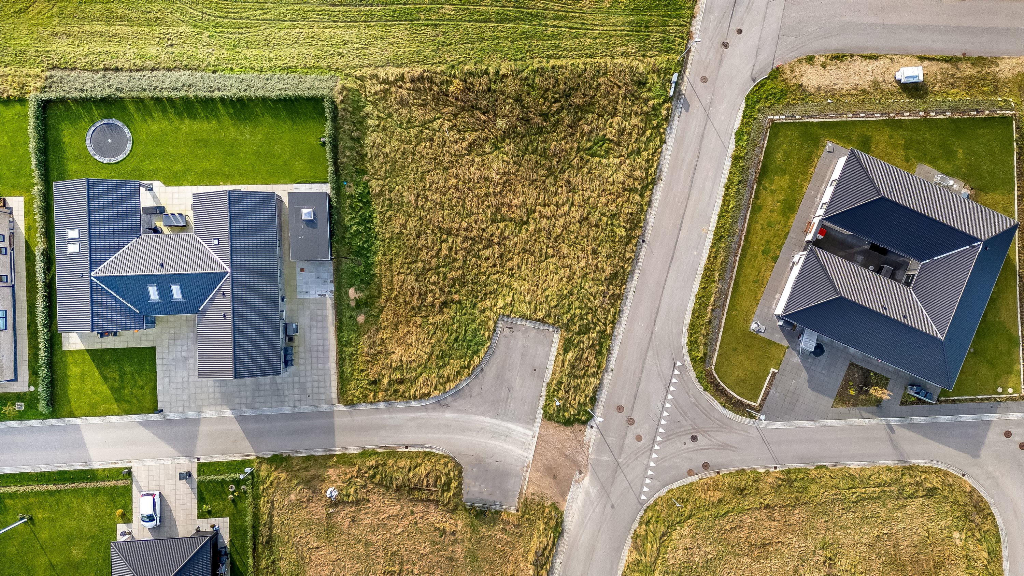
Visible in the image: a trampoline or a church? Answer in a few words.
trampoline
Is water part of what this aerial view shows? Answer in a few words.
No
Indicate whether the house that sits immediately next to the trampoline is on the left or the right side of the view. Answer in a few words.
left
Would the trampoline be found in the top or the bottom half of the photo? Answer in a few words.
top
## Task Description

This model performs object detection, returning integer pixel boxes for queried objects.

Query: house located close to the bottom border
[110,527,218,576]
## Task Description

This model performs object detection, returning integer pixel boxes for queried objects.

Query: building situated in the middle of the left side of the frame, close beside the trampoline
[56,178,285,379]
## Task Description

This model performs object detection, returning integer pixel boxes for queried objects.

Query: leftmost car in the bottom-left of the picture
[137,490,162,527]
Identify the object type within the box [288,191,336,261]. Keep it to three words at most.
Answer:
building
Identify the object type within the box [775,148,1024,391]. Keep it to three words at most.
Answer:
house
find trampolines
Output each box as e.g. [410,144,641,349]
[85,117,132,163]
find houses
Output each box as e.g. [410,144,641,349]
[56,178,285,379]
[110,527,218,576]
[775,148,1024,391]
[0,211,16,382]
